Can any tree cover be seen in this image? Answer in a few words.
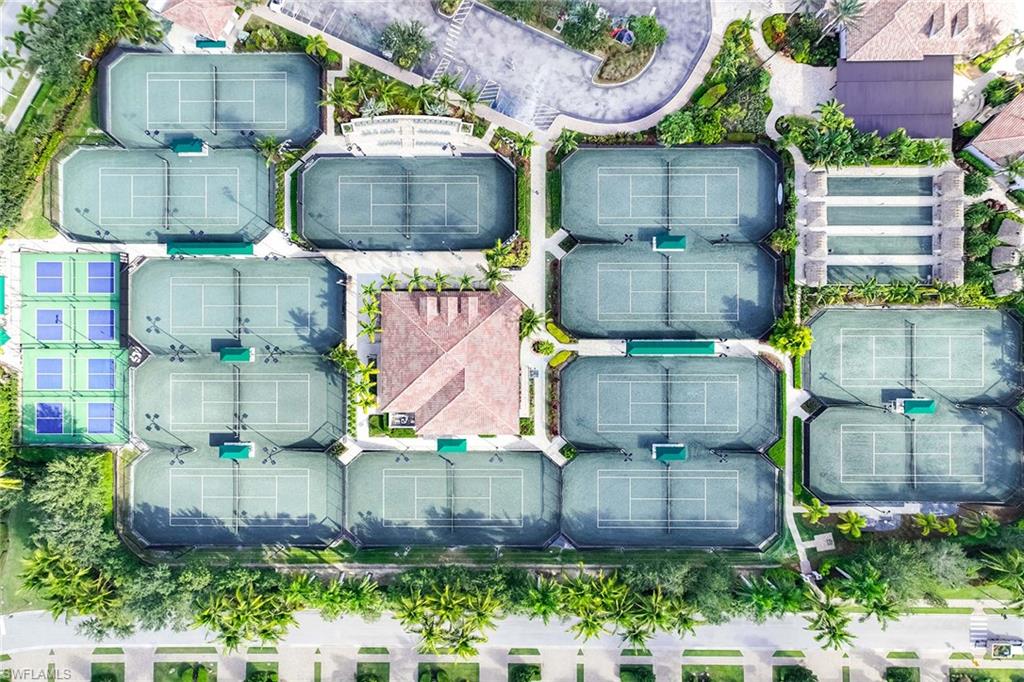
Yes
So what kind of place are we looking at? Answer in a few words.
sports ground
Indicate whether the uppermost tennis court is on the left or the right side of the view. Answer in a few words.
left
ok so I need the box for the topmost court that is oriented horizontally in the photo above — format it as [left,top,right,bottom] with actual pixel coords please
[109,54,319,148]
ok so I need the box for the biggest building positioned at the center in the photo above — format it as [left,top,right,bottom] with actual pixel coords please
[380,284,526,437]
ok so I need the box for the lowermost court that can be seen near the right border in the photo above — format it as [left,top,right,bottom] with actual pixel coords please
[810,406,1017,502]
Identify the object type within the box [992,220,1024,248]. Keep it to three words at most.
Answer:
shed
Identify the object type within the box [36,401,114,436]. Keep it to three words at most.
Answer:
sports court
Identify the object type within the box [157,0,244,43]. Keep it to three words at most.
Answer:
building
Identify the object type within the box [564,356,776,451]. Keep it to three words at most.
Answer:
tennis court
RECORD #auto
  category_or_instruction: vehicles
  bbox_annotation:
[985,638,1024,657]
[269,0,285,11]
